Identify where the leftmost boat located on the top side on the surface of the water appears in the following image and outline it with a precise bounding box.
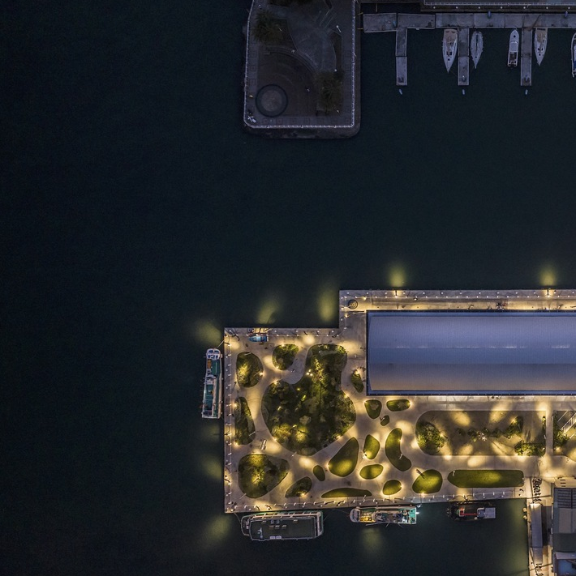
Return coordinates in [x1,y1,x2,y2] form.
[443,29,456,71]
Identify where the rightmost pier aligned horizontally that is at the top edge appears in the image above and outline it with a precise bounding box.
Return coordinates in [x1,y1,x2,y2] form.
[522,13,566,29]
